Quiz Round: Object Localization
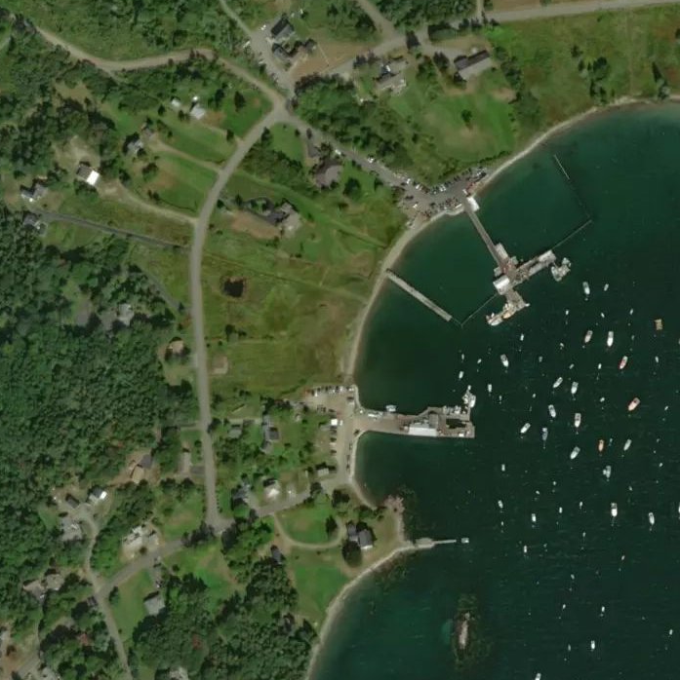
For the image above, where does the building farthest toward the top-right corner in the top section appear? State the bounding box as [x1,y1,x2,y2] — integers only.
[454,50,493,78]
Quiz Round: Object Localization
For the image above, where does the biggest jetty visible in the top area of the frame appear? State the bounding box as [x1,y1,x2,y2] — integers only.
[465,201,557,310]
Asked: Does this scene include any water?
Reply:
Yes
